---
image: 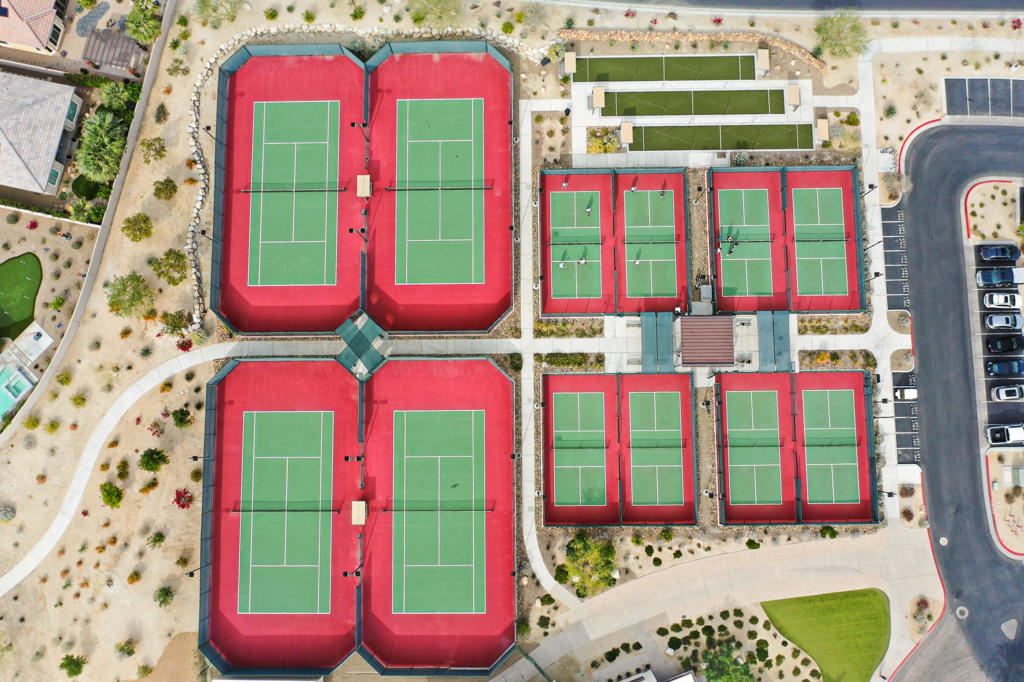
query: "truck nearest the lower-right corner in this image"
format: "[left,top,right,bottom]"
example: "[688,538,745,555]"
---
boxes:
[980,424,1024,446]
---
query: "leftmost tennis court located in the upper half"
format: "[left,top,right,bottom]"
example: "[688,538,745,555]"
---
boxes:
[220,55,368,335]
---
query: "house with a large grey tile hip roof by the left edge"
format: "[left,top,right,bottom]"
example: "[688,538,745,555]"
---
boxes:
[0,78,86,196]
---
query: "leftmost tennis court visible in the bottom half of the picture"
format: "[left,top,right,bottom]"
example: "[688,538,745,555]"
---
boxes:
[208,361,364,670]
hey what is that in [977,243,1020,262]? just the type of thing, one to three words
car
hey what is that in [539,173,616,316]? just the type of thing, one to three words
sports court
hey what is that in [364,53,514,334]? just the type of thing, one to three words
tennis court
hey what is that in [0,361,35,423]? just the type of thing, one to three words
swimming pool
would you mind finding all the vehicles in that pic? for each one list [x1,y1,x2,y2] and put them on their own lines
[983,334,1024,353]
[980,291,1022,310]
[985,357,1024,377]
[974,266,1024,287]
[982,312,1023,331]
[893,389,922,400]
[988,383,1024,403]
[980,424,1024,446]
[977,243,1020,262]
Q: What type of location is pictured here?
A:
sports ground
